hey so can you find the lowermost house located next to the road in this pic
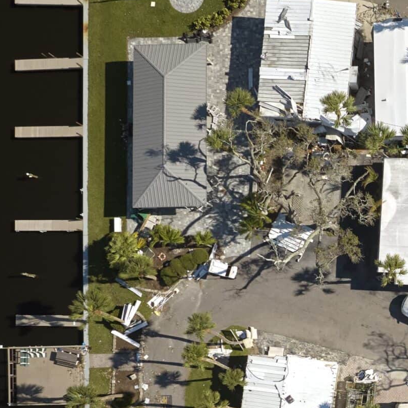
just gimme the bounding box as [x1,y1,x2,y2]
[241,355,343,408]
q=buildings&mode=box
[373,20,408,134]
[257,0,360,127]
[132,43,208,210]
[377,158,408,286]
[241,355,343,408]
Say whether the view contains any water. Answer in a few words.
Yes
